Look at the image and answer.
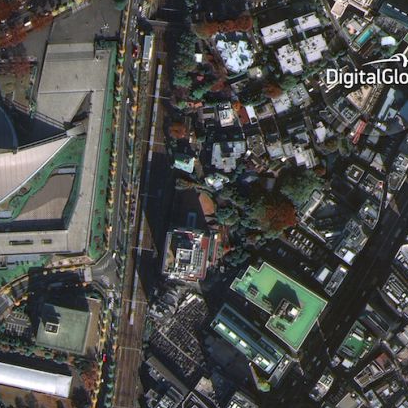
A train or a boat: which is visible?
train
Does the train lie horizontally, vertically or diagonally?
vertically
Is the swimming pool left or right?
right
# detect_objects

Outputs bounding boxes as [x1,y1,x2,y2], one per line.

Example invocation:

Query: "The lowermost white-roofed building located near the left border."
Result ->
[0,364,72,400]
